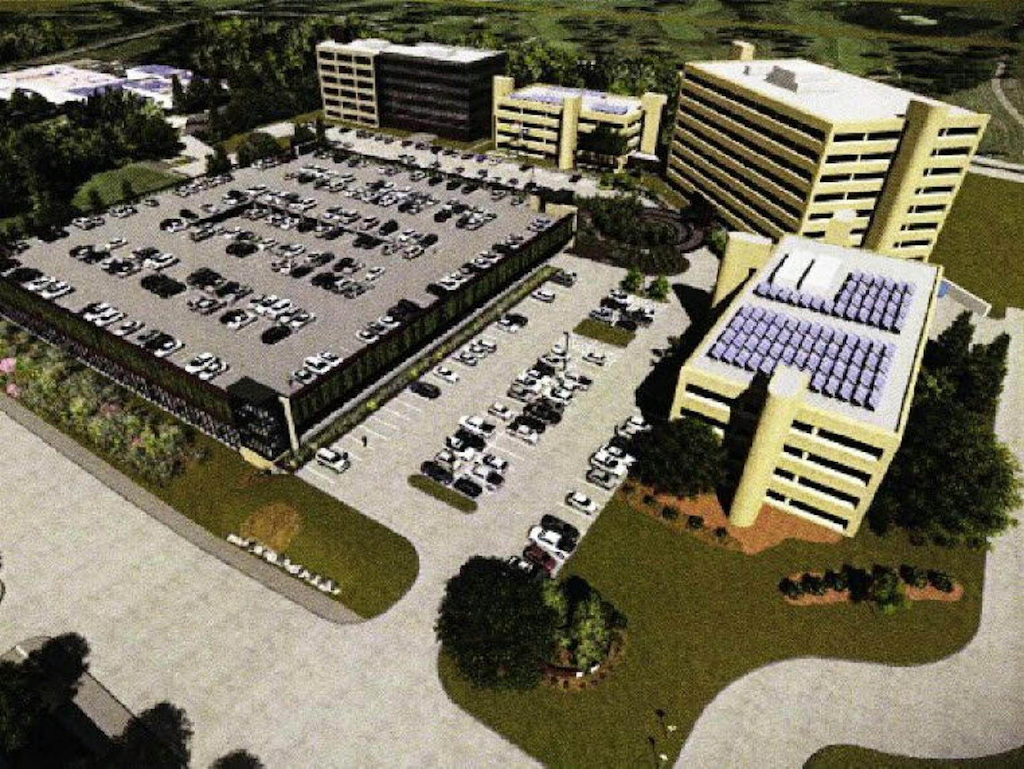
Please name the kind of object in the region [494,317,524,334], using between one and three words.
car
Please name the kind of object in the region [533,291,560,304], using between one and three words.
vehicle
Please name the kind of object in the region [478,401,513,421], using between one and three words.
car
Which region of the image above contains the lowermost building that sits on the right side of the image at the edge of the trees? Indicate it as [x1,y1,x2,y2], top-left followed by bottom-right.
[665,226,943,531]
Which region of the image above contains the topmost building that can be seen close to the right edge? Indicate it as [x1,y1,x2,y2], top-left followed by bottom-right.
[666,39,988,258]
